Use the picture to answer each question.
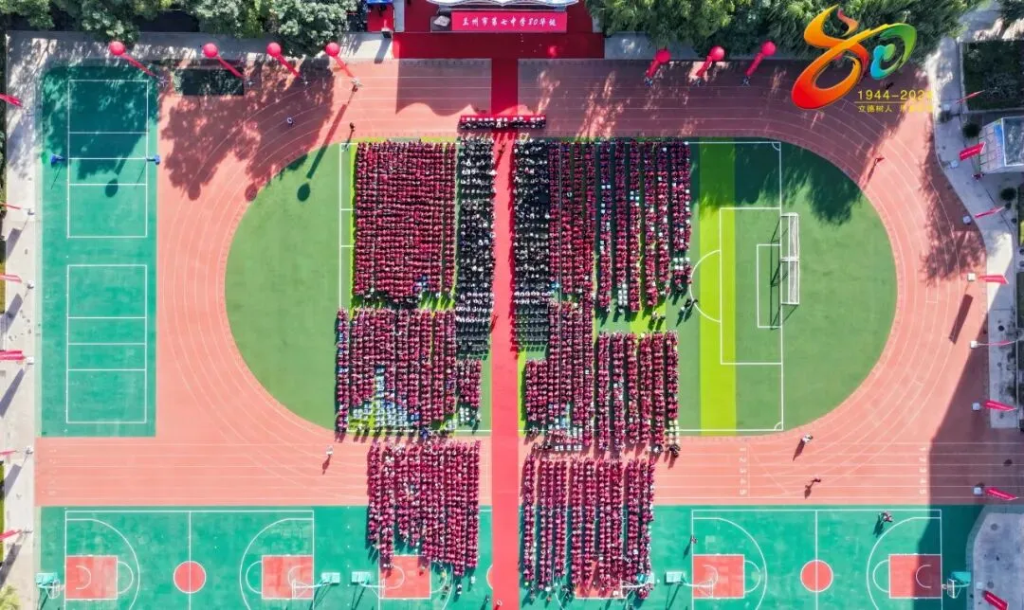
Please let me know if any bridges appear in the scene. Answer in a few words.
No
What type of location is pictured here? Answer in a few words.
sports ground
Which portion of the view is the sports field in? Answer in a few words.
center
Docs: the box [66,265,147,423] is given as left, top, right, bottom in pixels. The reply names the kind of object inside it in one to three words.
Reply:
sports court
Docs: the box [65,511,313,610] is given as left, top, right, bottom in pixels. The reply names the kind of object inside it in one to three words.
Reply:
basketball court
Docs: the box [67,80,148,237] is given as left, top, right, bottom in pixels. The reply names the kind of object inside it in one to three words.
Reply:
sports court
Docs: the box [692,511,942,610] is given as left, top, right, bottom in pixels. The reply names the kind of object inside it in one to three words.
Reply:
basketball court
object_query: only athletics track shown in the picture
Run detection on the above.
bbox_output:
[36,58,1024,506]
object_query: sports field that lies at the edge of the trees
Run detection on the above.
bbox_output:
[226,136,898,436]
